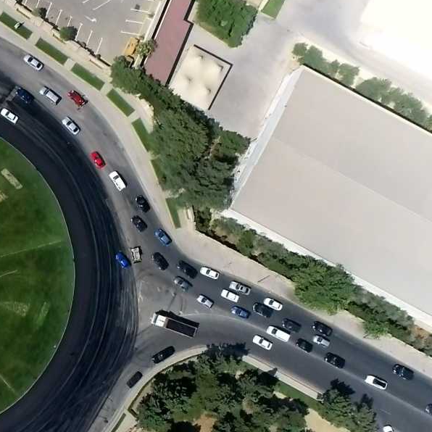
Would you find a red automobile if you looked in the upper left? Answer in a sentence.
Yes, a red automobile is visible in the upper left.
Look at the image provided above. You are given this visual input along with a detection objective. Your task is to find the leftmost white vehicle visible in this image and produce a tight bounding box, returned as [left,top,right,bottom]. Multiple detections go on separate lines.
[0,108,19,125]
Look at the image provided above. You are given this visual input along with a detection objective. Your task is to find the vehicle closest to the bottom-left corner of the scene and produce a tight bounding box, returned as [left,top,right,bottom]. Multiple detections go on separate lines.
[125,370,143,388]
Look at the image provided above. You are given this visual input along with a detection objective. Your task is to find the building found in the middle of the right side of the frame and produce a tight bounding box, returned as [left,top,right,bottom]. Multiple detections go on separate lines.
[222,67,432,325]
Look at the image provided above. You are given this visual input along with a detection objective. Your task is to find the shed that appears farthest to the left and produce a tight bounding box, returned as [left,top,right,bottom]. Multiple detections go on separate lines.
[142,0,194,88]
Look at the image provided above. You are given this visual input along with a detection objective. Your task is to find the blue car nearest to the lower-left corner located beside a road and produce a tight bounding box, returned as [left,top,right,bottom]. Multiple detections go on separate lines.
[115,250,131,270]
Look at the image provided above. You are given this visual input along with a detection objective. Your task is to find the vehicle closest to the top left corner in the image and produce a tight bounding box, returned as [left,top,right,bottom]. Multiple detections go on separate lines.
[22,54,44,71]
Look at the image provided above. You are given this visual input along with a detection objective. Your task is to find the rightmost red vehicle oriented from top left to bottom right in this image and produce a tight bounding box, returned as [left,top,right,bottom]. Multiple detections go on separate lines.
[90,151,106,171]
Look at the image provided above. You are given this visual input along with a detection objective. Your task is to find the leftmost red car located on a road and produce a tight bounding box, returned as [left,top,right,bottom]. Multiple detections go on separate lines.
[66,89,88,108]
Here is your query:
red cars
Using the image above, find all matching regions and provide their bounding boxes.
[66,89,88,108]
[90,151,106,171]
